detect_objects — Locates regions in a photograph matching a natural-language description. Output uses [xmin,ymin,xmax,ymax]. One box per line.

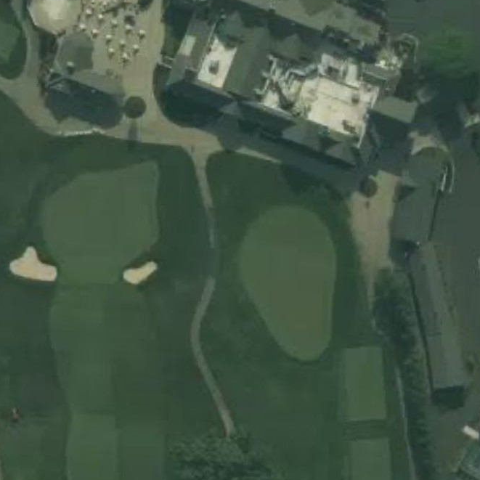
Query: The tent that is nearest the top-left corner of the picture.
[30,0,82,37]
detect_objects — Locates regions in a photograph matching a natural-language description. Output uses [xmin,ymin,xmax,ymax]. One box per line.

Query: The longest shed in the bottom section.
[406,242,465,391]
